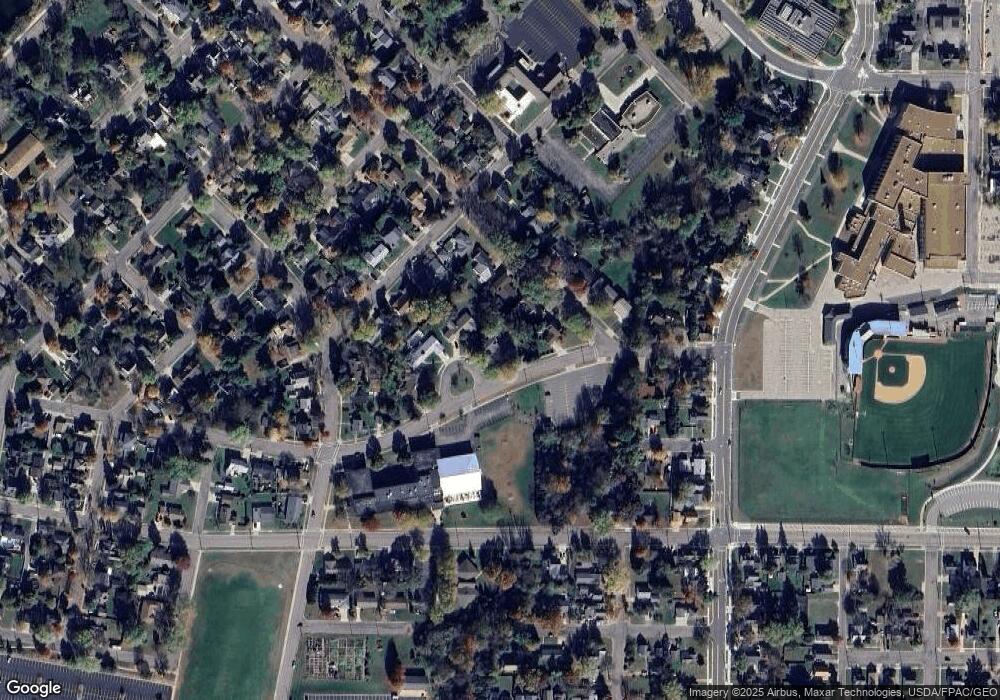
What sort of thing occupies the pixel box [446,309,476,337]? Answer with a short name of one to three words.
house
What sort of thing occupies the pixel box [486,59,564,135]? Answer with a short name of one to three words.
building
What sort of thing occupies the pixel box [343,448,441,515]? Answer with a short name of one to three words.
building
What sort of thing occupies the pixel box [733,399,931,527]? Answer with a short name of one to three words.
sports field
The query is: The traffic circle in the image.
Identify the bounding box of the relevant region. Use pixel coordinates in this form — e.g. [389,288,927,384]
[440,356,482,405]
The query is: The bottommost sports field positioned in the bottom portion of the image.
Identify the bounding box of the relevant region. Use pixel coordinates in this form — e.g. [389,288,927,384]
[175,551,302,700]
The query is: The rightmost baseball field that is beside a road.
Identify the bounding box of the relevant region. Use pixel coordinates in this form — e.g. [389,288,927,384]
[854,334,992,470]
